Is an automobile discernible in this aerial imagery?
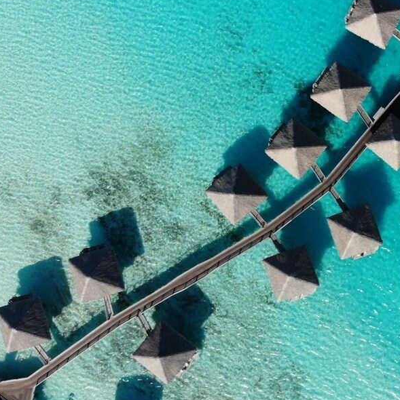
No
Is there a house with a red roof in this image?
No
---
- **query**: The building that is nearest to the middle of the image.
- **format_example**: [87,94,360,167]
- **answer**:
[204,162,268,226]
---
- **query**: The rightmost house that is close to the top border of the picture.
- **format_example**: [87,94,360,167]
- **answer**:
[345,0,400,48]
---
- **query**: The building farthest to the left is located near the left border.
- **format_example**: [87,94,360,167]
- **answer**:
[0,292,54,355]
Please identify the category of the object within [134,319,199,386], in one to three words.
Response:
house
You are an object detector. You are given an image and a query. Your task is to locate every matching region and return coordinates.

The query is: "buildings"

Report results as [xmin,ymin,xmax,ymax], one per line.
[134,319,199,386]
[262,242,324,303]
[204,162,268,226]
[326,201,385,262]
[263,117,329,180]
[67,242,127,303]
[365,110,400,172]
[310,60,372,123]
[0,292,54,355]
[345,0,400,48]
